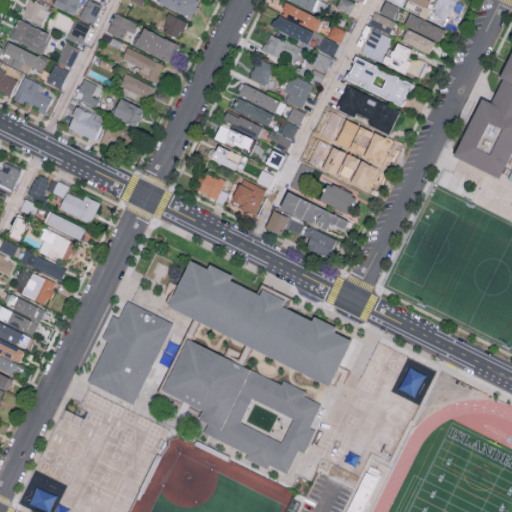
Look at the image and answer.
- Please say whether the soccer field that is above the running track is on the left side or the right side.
right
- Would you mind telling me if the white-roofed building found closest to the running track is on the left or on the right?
right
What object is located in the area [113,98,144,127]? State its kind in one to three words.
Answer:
house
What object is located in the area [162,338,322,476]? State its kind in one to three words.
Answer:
building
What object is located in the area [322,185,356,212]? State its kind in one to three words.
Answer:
house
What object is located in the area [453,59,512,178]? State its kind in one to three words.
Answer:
building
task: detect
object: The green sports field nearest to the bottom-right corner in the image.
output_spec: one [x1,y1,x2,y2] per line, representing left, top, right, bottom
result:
[390,418,512,512]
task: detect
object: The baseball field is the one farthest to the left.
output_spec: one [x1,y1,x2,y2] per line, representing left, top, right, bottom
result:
[132,434,295,512]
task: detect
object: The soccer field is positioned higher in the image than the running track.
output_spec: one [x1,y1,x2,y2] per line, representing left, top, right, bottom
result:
[385,184,512,349]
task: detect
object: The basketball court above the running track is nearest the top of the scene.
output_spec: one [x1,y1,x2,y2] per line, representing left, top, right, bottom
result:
[465,170,512,219]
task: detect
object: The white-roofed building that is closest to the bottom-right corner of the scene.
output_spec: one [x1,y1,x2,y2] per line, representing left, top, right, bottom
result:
[347,467,382,512]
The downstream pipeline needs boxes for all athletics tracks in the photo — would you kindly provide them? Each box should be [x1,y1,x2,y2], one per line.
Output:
[373,399,512,512]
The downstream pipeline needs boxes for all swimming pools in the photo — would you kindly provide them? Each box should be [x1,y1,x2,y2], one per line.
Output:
[24,235,41,250]
[88,69,110,84]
